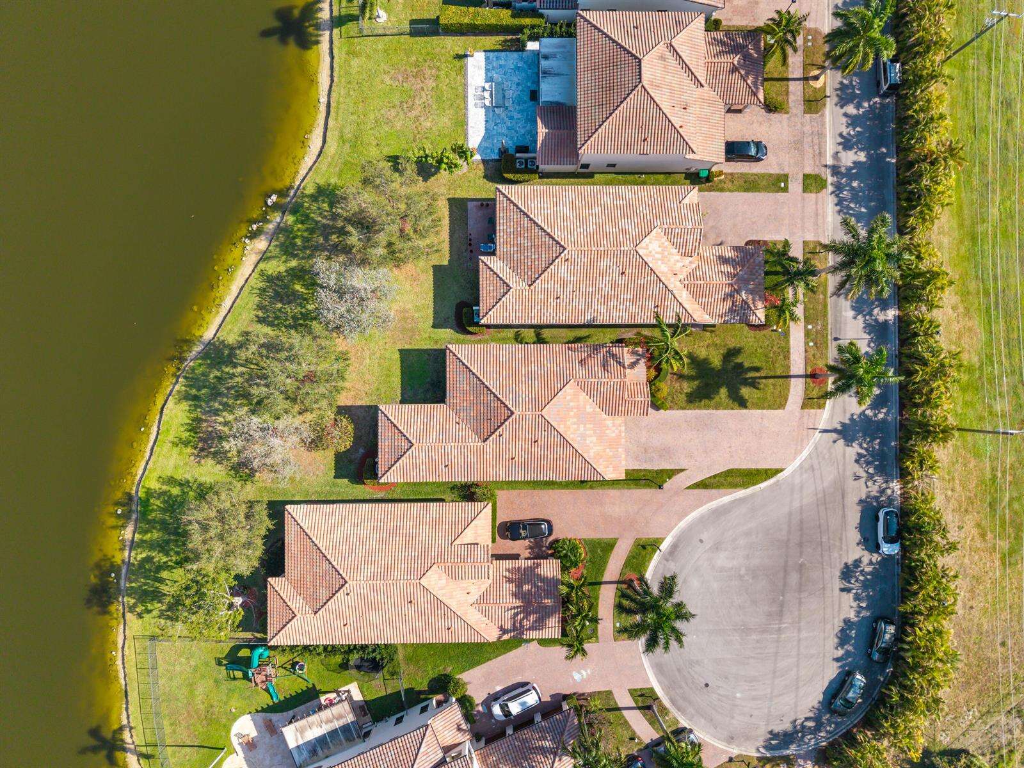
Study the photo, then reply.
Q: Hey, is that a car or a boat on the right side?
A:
car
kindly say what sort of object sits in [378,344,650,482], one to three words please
house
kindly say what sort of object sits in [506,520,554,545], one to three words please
car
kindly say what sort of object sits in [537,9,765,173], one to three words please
house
